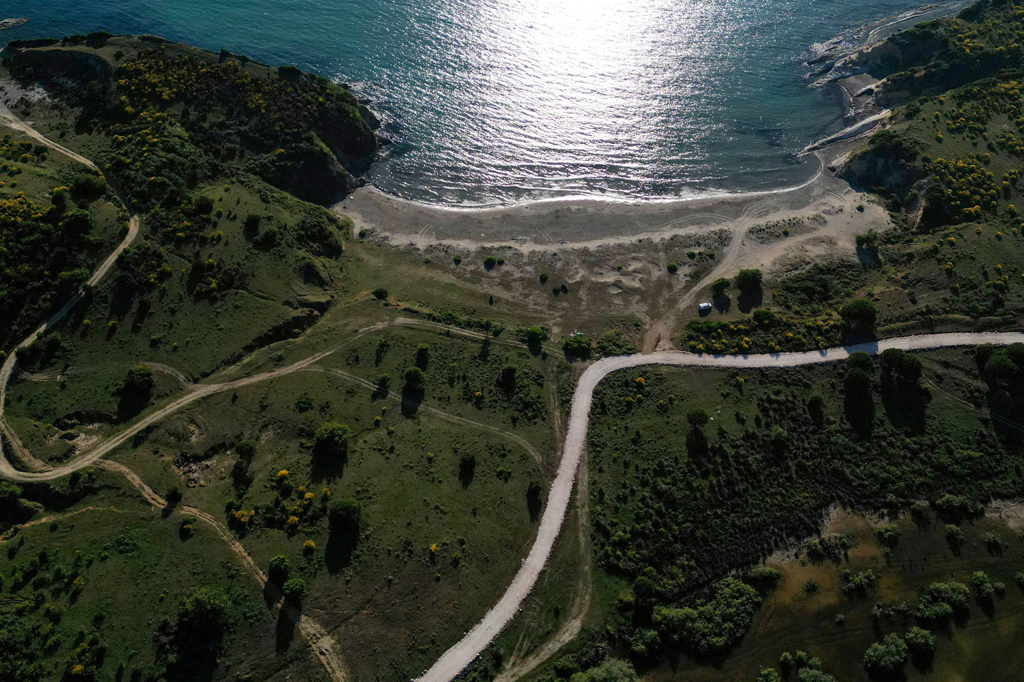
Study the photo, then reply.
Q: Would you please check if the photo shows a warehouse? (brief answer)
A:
No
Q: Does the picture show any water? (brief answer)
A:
Yes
